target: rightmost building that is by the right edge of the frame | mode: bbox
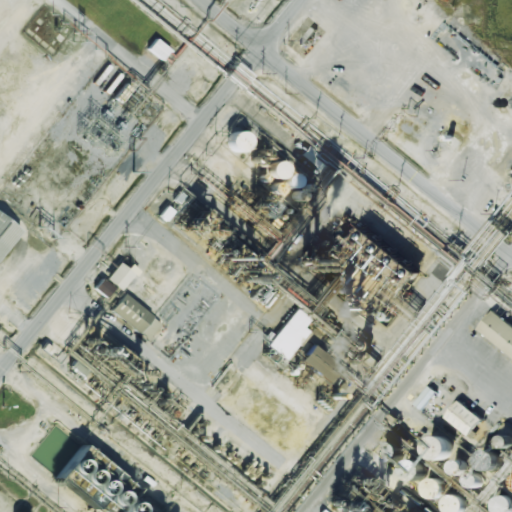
[468,308,512,364]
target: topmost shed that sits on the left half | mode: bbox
[146,36,176,62]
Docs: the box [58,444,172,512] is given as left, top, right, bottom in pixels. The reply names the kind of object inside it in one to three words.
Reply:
cooling tower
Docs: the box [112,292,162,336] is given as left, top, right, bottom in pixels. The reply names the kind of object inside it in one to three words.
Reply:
shed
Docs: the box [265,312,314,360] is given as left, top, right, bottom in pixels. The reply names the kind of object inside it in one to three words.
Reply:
building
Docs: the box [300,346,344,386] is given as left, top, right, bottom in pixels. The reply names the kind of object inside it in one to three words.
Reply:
building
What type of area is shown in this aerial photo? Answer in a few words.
industrial area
